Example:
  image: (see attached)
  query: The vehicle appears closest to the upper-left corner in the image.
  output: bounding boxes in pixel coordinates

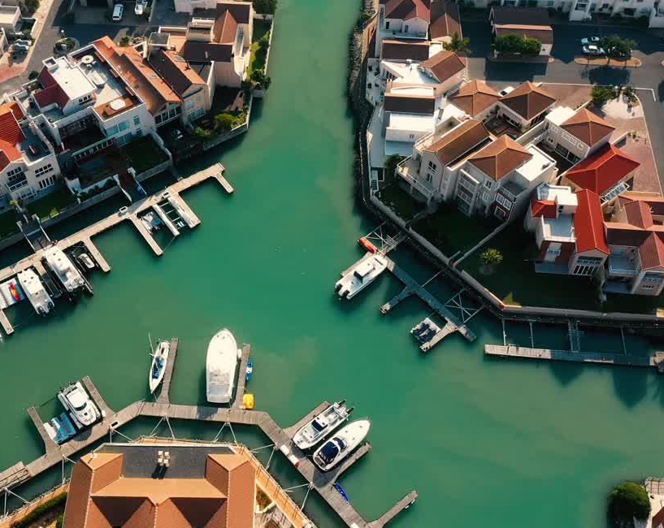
[113,4,125,21]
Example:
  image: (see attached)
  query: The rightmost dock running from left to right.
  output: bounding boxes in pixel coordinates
[483,344,664,375]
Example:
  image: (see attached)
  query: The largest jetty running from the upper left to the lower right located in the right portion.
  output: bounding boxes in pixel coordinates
[340,250,476,353]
